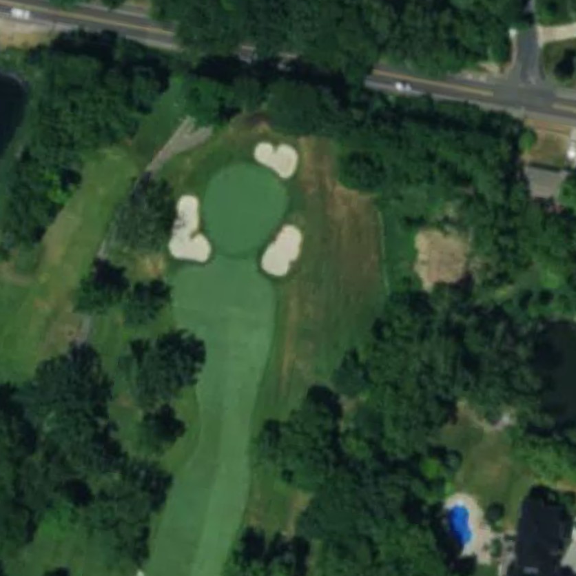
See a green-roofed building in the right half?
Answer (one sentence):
No, no green-roofed building is visible in the right half.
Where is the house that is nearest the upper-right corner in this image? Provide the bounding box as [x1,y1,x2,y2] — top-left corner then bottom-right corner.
[524,166,565,203]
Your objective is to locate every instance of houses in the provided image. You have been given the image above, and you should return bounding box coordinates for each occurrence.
[509,497,576,576]
[524,166,565,203]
